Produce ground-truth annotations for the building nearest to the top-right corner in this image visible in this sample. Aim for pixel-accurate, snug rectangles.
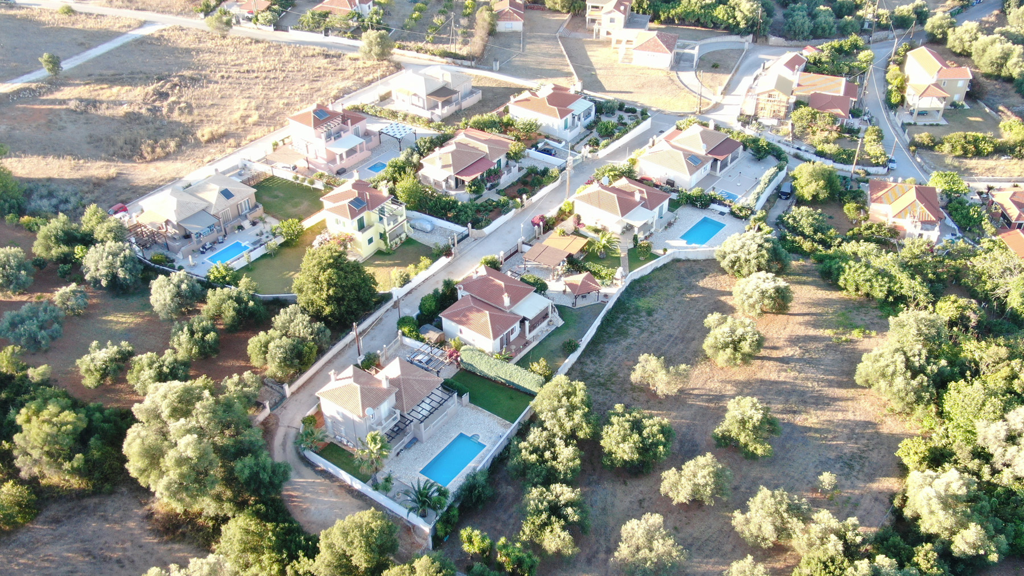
[901,41,972,120]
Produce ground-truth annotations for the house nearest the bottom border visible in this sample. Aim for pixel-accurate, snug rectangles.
[315,355,458,456]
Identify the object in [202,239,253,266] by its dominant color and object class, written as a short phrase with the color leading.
blue swimming pool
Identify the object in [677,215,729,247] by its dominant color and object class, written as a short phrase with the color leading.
blue swimming pool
